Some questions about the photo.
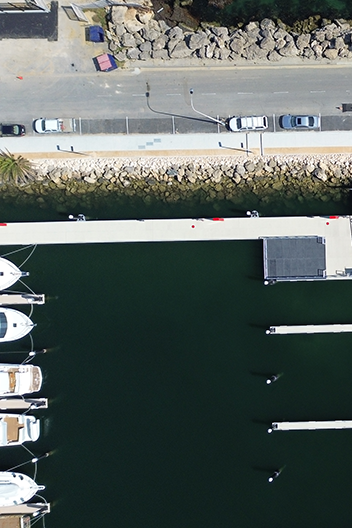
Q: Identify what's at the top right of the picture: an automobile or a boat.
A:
automobile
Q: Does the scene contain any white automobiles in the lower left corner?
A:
No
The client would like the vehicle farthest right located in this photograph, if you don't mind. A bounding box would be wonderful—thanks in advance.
[282,113,321,131]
